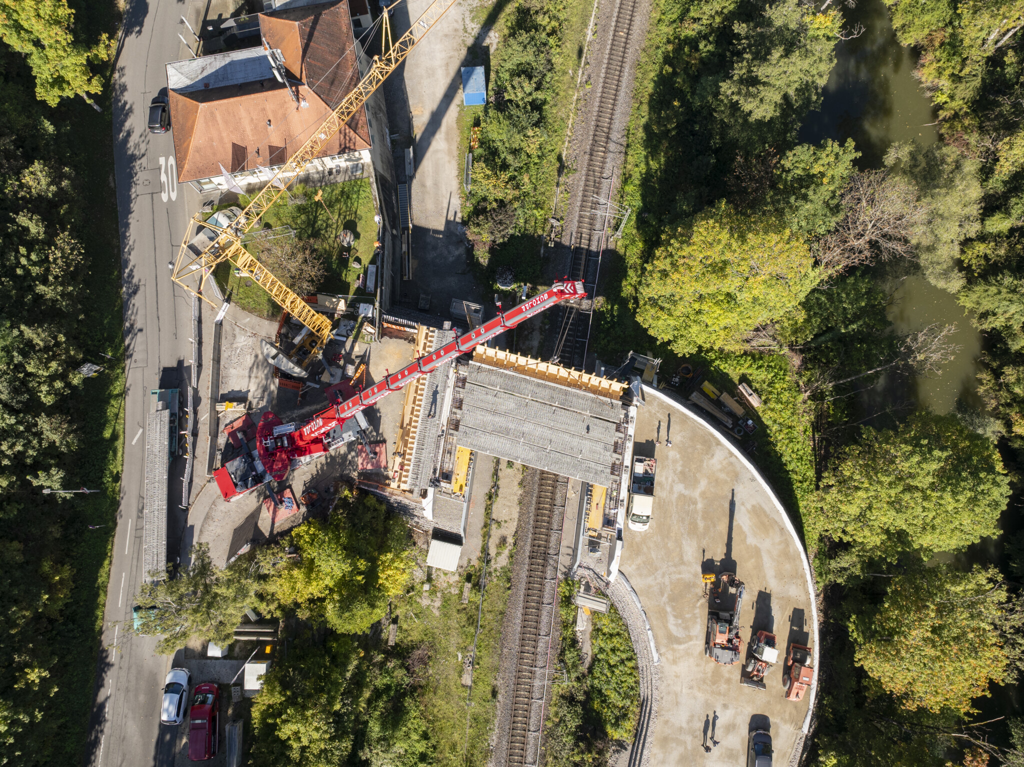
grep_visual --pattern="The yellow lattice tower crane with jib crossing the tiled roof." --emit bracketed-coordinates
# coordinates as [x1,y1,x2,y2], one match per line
[165,0,469,388]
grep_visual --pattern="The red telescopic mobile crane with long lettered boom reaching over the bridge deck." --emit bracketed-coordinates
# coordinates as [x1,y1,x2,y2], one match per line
[212,275,612,509]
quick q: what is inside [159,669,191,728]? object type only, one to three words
car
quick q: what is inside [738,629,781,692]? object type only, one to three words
work vehicle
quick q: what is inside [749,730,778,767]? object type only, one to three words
car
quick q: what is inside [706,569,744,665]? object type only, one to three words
work vehicle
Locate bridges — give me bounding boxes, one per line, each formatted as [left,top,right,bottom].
[389,322,641,585]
